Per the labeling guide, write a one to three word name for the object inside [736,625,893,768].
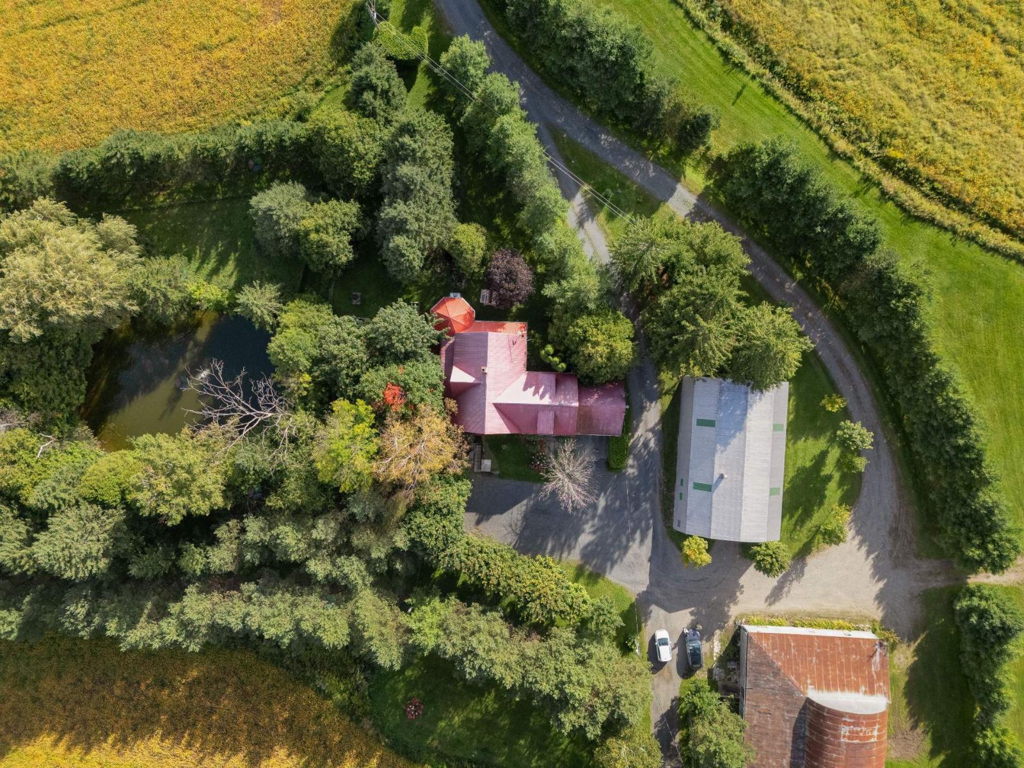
barn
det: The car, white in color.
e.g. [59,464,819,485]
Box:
[654,628,671,662]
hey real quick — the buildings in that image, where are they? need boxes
[437,319,626,442]
[672,379,791,542]
[736,625,893,768]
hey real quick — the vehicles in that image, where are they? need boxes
[654,628,671,662]
[684,630,703,668]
